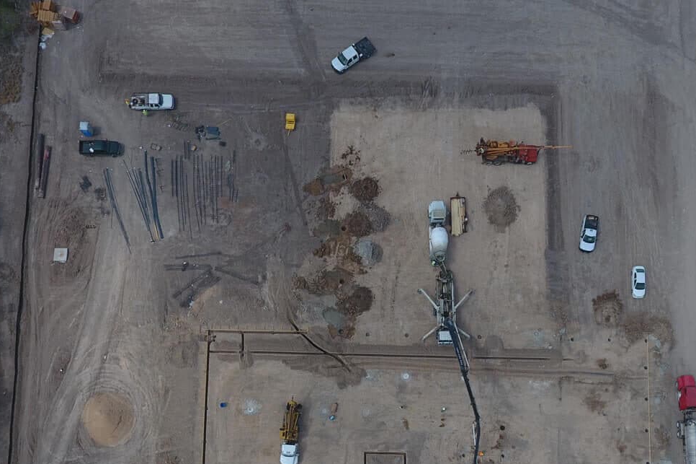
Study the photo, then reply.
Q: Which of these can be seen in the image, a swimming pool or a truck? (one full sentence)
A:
I can see a truck in this picture.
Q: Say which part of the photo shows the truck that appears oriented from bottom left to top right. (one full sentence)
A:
Look in the top portion of the view to spot the truck that appears oriented from bottom left to top right.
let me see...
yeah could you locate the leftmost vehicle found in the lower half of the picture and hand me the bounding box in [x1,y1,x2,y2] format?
[277,390,298,464]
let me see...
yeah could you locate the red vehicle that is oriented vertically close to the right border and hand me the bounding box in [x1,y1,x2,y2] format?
[671,374,696,439]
